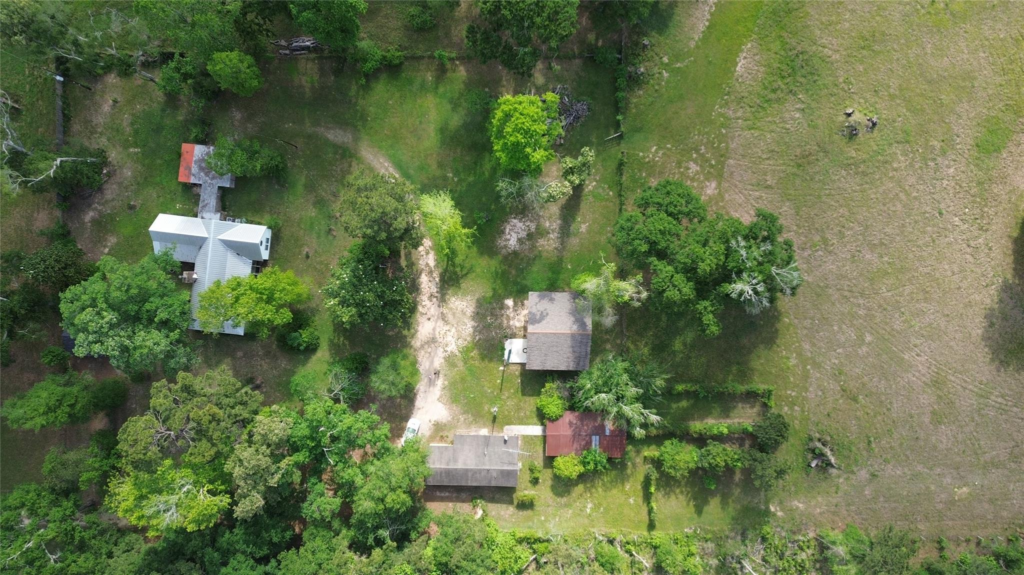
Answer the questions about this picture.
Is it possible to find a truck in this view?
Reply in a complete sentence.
No, no truck can be seen from above.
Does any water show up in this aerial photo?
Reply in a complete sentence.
No, water can't be seen anywhere here.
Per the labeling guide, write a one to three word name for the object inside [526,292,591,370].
barn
